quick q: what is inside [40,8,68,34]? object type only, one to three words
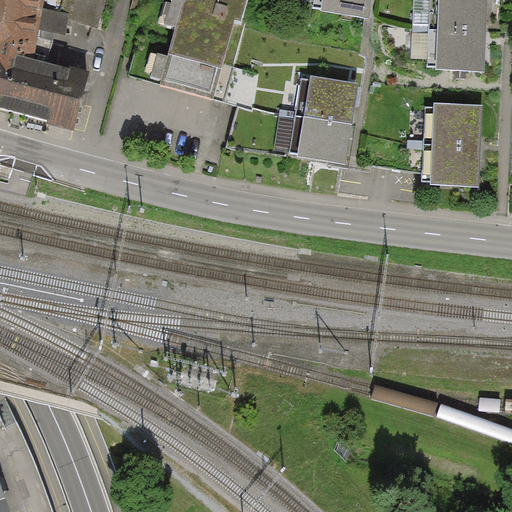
shed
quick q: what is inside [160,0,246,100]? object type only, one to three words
building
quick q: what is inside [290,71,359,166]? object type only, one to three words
house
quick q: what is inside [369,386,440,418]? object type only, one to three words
rail car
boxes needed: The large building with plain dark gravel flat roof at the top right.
[437,0,489,72]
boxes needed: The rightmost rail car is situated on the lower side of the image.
[435,404,512,444]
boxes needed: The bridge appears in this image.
[0,380,110,425]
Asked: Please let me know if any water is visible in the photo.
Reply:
No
